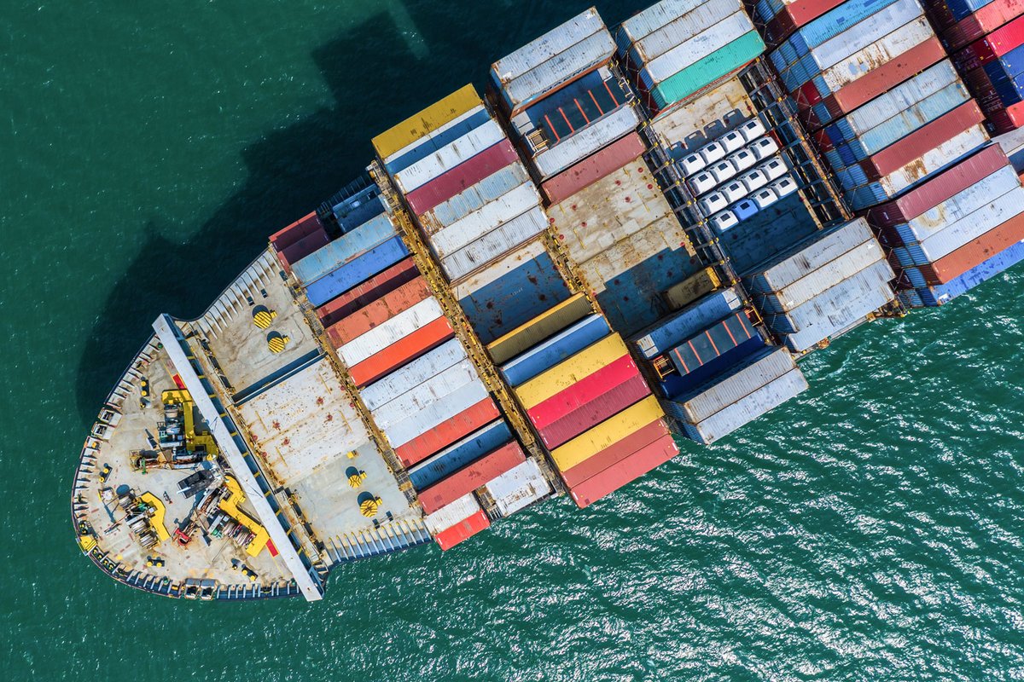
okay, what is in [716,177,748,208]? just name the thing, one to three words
truck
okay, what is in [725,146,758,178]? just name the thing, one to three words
truck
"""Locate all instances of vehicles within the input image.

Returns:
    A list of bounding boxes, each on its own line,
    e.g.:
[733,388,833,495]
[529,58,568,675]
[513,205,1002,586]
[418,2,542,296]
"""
[694,189,728,220]
[716,177,748,208]
[747,185,779,216]
[684,170,717,201]
[725,146,758,178]
[734,116,767,147]
[715,128,748,158]
[727,196,759,227]
[673,151,706,183]
[755,154,789,185]
[695,139,727,170]
[746,135,778,166]
[736,166,769,196]
[767,173,800,204]
[705,208,738,239]
[705,158,738,189]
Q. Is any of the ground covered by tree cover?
No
